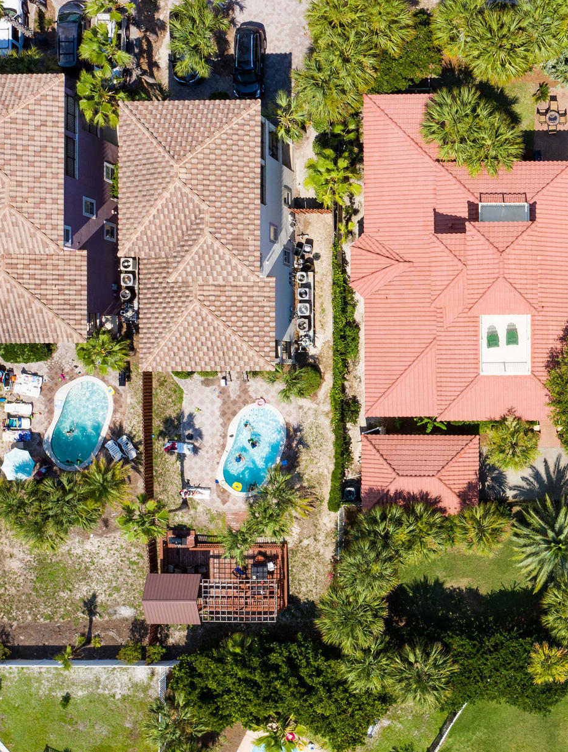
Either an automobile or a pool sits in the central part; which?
pool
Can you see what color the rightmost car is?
black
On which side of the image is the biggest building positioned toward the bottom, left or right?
right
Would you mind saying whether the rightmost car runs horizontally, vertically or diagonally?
vertically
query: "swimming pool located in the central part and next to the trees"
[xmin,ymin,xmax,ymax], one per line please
[217,404,286,496]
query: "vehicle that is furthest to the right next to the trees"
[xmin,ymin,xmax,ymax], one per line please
[228,18,271,105]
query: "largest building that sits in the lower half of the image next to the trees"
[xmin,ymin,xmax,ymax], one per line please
[359,434,480,517]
